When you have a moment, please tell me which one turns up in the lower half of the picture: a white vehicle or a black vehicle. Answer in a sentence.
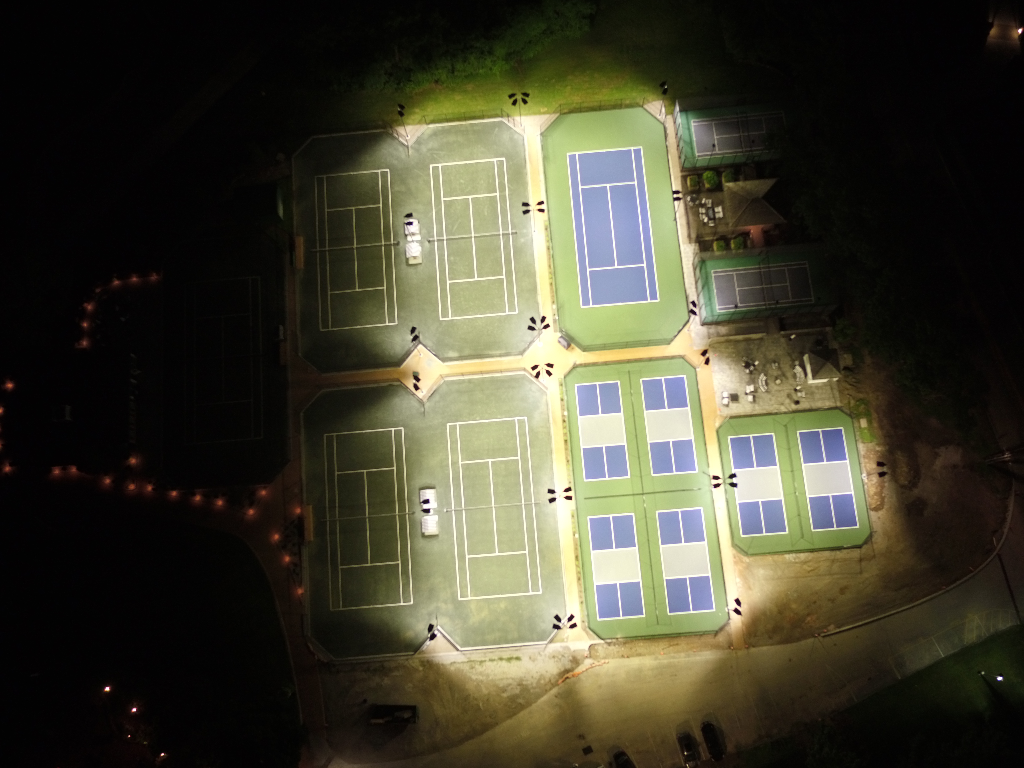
Visible in the lower half of the picture is a black vehicle.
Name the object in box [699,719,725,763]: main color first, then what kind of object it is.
black car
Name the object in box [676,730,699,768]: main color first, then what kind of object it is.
black car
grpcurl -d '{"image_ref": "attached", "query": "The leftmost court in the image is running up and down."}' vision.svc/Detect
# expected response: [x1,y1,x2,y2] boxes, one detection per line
[164,236,287,488]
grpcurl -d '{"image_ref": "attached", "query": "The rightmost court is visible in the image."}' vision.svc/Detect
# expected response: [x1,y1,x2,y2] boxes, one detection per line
[783,409,870,551]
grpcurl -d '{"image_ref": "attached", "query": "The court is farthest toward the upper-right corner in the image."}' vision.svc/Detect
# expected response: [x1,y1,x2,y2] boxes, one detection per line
[673,88,814,172]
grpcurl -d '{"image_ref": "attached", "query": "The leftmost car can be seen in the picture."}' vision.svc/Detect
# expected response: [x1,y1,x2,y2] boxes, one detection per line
[612,748,633,768]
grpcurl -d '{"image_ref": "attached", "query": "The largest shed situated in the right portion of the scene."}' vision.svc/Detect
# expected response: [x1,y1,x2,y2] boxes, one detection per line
[724,178,786,230]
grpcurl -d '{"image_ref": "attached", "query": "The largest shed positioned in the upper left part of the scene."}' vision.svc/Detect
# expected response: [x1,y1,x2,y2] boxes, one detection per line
[229,175,281,223]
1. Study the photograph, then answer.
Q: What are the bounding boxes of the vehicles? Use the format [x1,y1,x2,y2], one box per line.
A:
[676,730,699,768]
[699,719,725,763]
[612,748,633,768]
